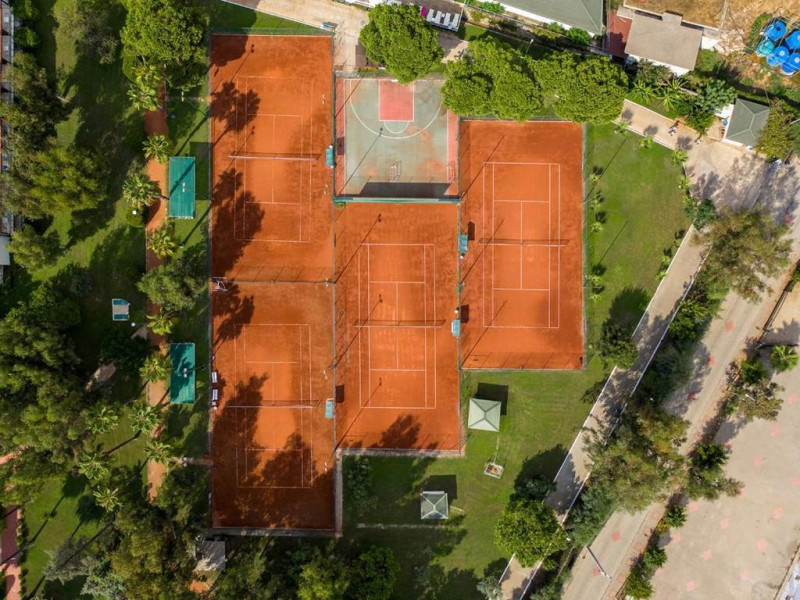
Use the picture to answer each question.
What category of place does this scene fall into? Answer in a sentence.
This image shows a sports ground.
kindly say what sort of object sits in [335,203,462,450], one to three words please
tennis court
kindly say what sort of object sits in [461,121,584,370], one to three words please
tennis court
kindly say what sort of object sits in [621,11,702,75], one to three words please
house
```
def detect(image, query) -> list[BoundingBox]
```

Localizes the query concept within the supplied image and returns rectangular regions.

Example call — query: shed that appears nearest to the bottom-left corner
[195,536,228,571]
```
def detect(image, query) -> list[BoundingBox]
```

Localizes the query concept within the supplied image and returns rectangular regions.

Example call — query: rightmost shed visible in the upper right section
[717,98,770,154]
